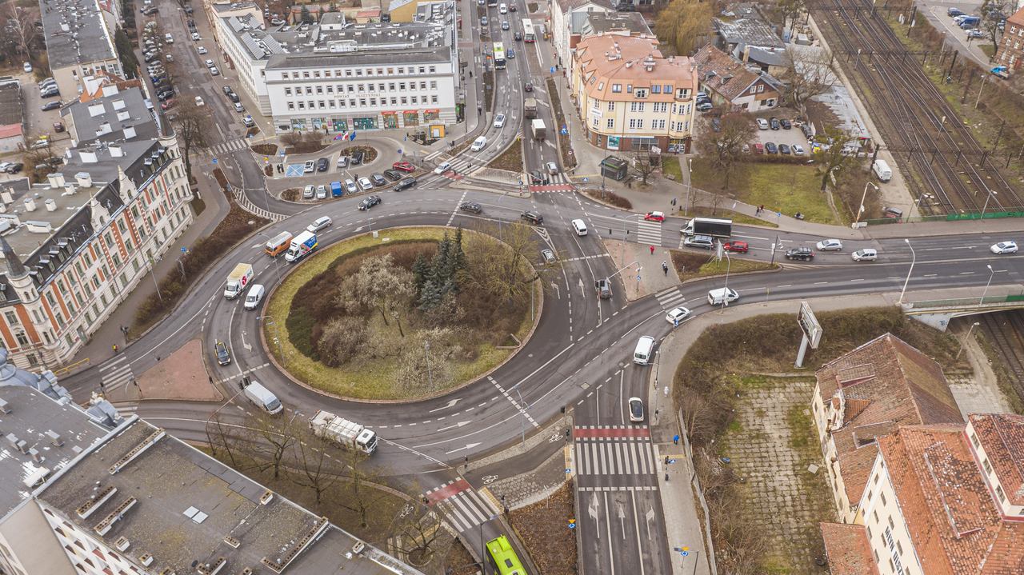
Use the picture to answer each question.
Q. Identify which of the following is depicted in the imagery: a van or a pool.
van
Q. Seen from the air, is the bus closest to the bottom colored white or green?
green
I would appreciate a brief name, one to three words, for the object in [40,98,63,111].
vehicle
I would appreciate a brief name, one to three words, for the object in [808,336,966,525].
building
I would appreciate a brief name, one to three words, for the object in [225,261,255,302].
truck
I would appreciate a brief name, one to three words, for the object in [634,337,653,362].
vehicle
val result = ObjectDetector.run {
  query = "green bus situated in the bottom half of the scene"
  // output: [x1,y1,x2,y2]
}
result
[485,535,532,575]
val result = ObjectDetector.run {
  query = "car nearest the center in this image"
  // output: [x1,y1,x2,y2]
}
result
[540,248,556,265]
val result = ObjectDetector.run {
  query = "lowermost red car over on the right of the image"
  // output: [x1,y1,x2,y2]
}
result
[721,239,751,253]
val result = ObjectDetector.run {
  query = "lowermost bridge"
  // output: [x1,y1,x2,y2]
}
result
[893,282,1024,323]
